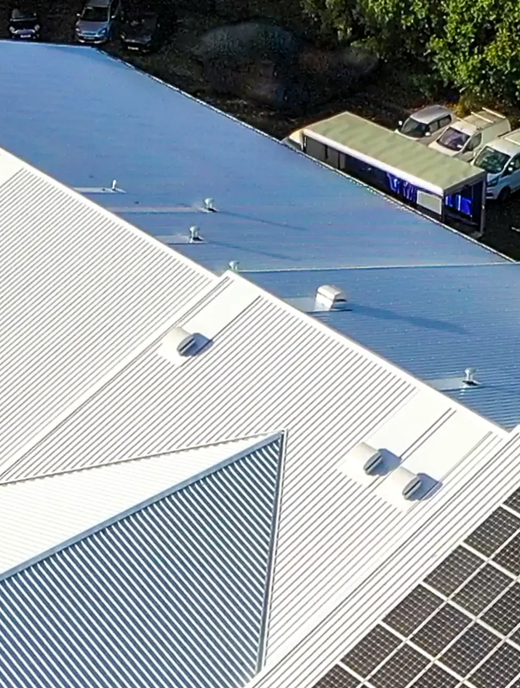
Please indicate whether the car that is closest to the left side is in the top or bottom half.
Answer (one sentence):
The car that is closest to the left side is in the top half of the image.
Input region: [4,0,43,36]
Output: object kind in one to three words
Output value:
car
